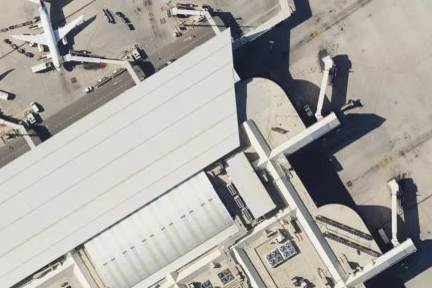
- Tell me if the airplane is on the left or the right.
left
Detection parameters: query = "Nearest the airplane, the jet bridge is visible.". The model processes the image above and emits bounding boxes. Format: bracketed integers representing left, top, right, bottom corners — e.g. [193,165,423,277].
[61,54,142,85]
